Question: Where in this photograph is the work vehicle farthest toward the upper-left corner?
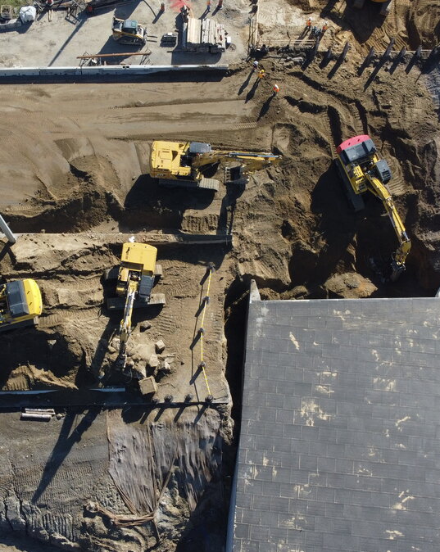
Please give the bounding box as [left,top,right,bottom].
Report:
[108,16,169,52]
